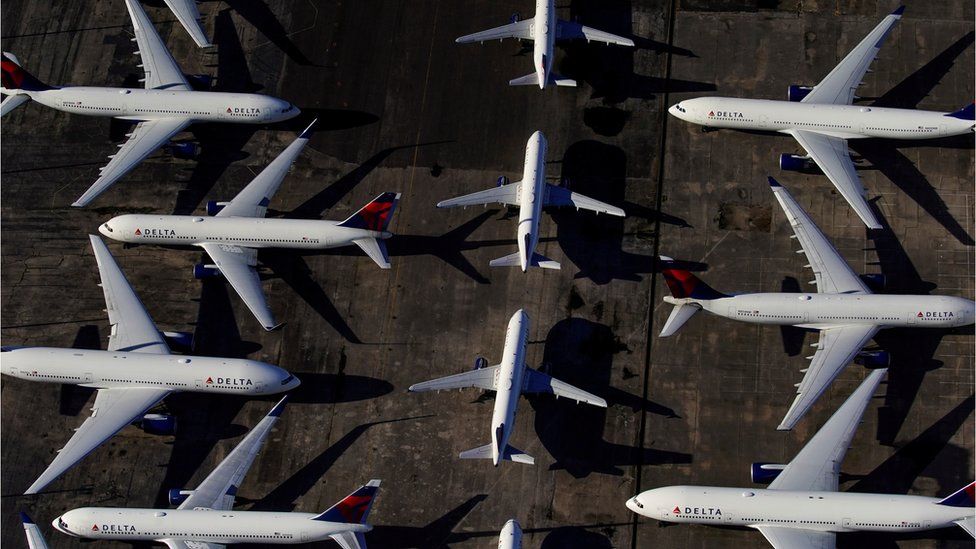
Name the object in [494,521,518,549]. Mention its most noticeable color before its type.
white airplane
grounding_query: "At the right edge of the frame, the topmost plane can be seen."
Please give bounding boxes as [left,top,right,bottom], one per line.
[668,7,976,230]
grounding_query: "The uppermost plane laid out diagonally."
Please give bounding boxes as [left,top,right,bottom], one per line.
[165,0,214,51]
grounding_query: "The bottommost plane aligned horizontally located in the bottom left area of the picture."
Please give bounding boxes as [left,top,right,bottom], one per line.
[52,395,381,549]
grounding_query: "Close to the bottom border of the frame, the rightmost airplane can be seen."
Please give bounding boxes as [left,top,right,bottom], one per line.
[627,371,976,549]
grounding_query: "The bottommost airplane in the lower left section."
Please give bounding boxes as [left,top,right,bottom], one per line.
[22,513,50,549]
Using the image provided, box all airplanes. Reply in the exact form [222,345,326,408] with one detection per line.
[660,177,976,429]
[455,0,635,92]
[0,0,301,206]
[165,0,214,51]
[52,395,381,549]
[436,134,625,272]
[0,235,301,493]
[408,312,607,465]
[22,513,50,549]
[627,371,976,549]
[98,121,399,326]
[668,7,976,230]
[494,521,518,549]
